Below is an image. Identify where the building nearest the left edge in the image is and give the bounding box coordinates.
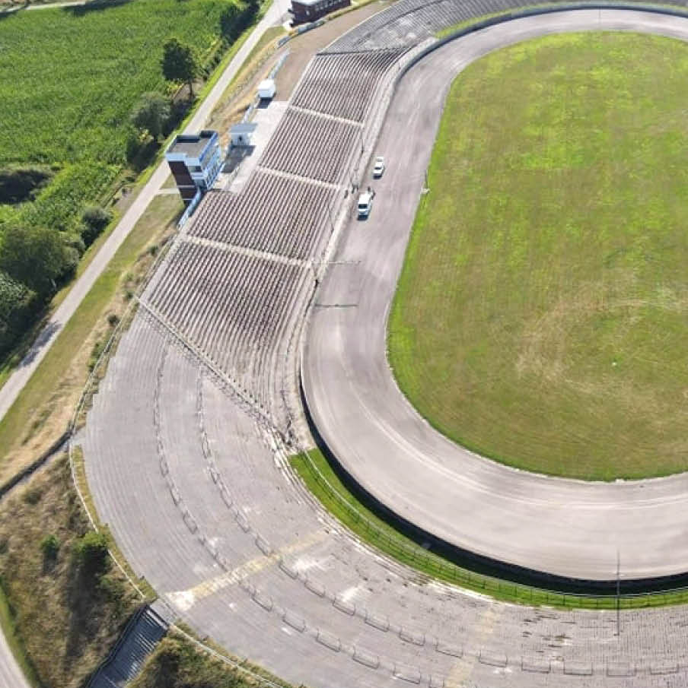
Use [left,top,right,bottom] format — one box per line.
[163,126,233,198]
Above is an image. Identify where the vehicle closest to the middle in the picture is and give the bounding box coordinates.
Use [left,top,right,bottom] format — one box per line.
[355,196,371,217]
